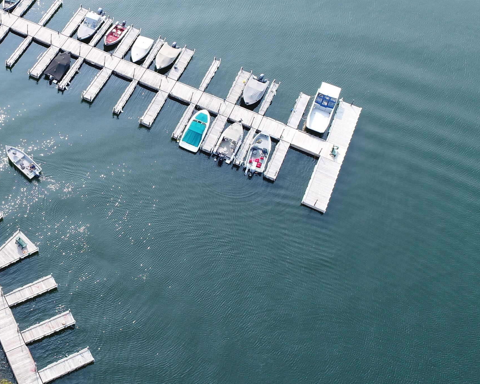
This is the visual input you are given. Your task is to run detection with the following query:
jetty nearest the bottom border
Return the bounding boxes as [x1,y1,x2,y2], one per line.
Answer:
[39,345,93,384]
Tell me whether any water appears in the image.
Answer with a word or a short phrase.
Yes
